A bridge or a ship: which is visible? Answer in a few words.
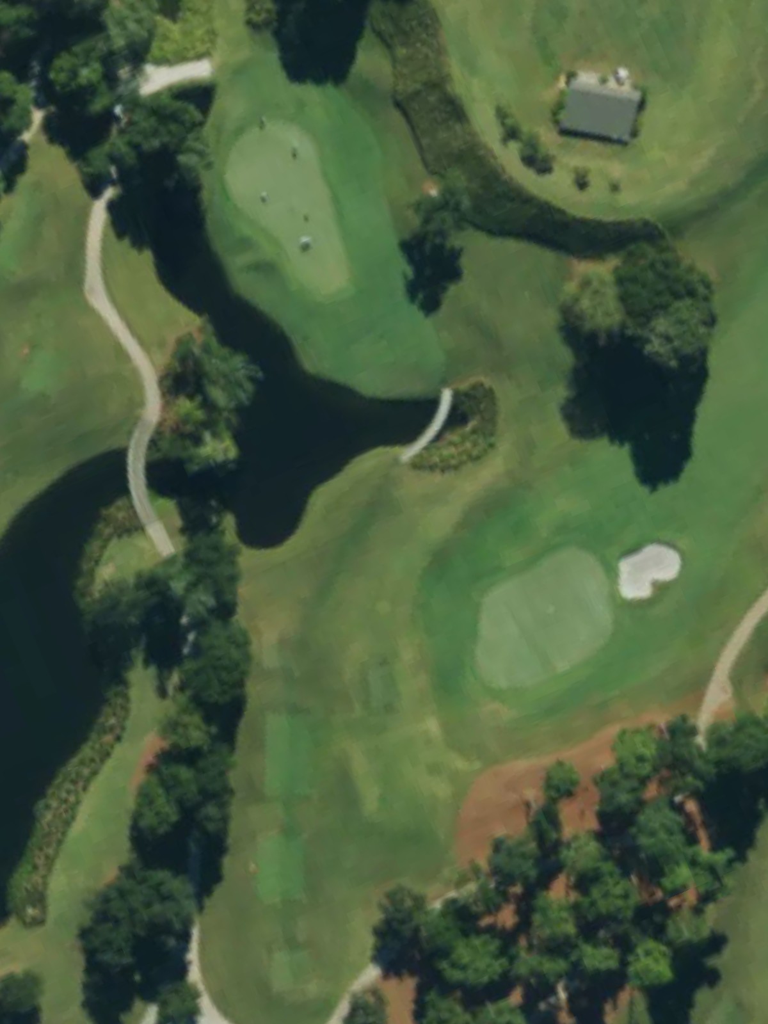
bridge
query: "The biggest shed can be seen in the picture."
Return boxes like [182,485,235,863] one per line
[562,65,641,140]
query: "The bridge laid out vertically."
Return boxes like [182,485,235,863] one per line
[127,413,163,533]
